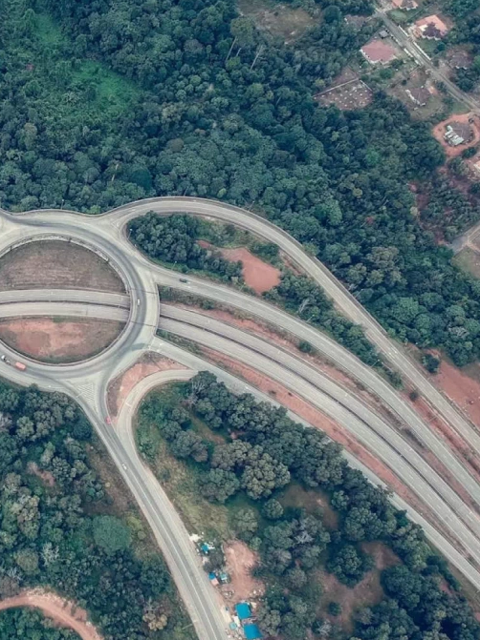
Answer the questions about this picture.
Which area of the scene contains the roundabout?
left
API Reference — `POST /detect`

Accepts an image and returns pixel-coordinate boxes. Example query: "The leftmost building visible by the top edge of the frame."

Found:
[341,10,370,30]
